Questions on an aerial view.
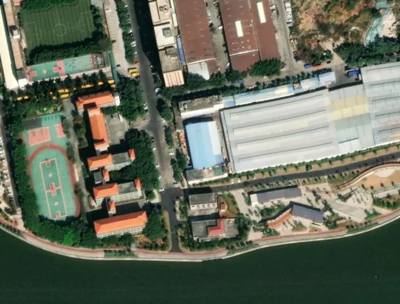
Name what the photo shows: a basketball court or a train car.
basketball court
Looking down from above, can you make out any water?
Yes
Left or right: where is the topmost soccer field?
left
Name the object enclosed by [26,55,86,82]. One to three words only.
basketball court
